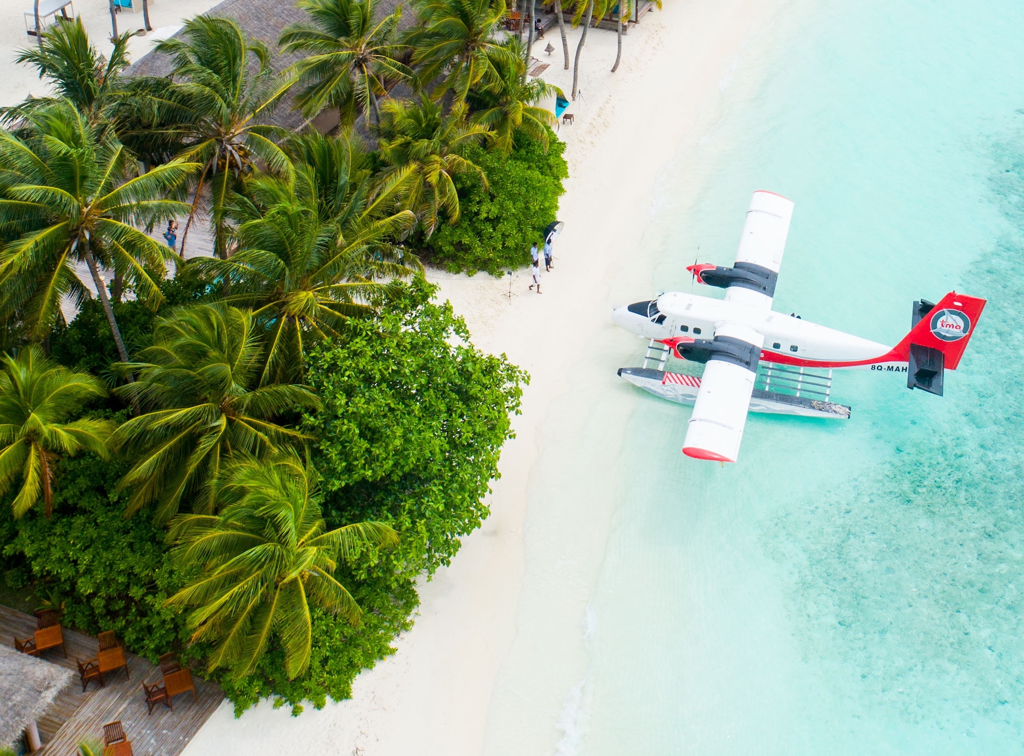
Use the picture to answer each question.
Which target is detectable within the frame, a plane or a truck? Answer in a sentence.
I can see a plane in this picture.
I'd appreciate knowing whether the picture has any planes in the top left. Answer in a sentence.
No, in the top left there is no plane.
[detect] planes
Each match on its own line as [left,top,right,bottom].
[612,191,986,462]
